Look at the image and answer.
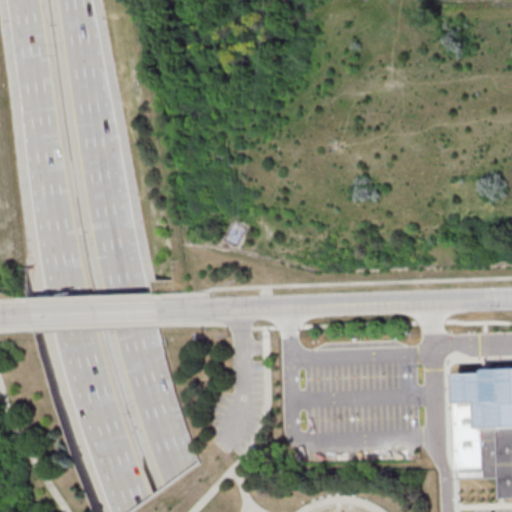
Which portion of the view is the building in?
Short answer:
bottom right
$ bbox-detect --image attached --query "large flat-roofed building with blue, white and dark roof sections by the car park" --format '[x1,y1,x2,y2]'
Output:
[449,368,512,498]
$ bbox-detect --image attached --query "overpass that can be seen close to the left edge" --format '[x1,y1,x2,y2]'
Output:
[20,294,166,332]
